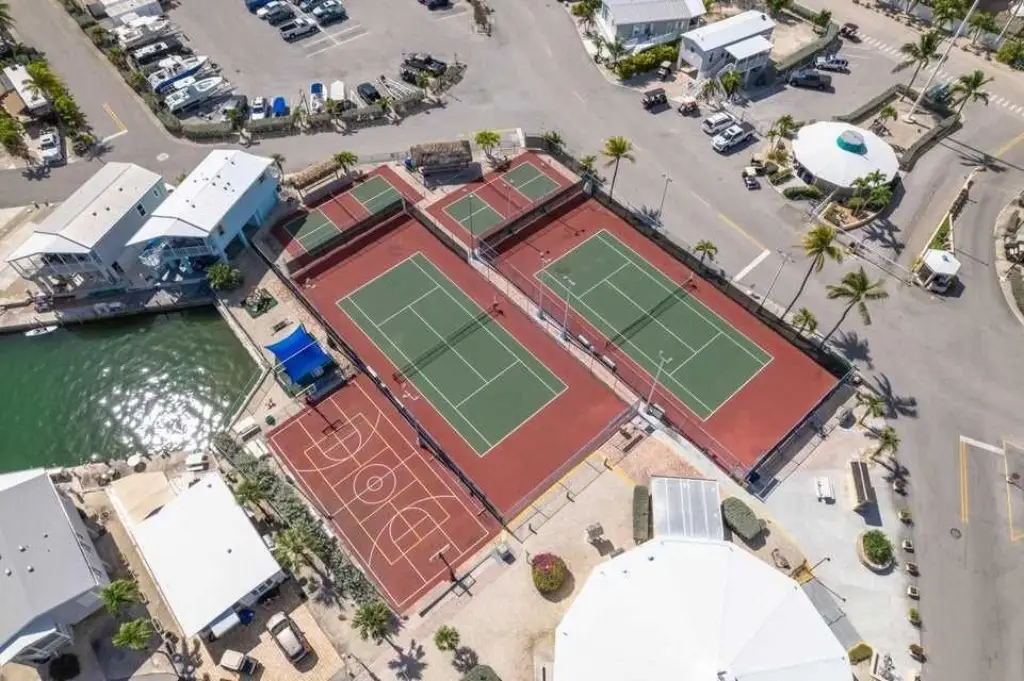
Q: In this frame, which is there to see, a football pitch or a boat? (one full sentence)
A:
It is a boat that can be seen here.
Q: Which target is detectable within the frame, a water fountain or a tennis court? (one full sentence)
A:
There is a tennis court in the scene.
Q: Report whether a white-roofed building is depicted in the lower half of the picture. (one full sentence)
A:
Yes, the scene does show a white-roofed building in the lower half of the picture.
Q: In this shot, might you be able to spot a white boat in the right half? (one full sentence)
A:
No, the scene shows no white boat in the right half.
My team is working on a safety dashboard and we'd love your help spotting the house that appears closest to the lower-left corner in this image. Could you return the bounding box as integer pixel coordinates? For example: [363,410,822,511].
[0,452,120,681]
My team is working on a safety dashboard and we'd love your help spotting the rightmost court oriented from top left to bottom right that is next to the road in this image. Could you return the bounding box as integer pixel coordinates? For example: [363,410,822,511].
[482,187,840,475]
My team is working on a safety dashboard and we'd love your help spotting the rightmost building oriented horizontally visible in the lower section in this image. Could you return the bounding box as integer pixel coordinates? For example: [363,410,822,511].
[552,538,854,681]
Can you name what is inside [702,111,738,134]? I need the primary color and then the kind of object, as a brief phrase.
white car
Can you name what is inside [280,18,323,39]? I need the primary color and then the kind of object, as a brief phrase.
gray truck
